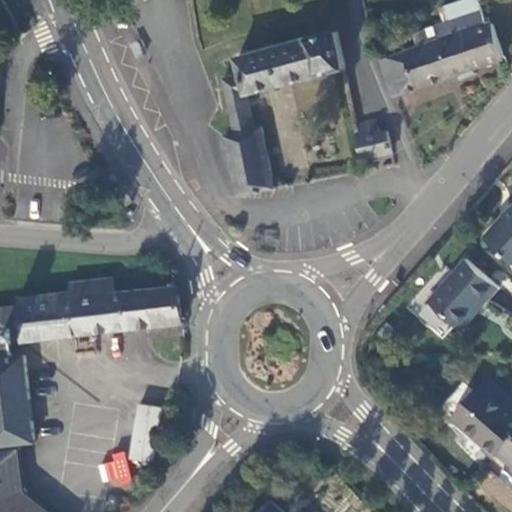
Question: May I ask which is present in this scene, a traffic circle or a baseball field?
traffic circle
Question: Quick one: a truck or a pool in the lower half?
truck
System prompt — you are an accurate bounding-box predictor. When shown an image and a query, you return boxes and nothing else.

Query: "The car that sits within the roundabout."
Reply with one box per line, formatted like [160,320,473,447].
[318,330,332,350]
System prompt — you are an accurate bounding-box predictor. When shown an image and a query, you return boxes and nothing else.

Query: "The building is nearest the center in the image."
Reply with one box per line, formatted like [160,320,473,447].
[223,129,269,190]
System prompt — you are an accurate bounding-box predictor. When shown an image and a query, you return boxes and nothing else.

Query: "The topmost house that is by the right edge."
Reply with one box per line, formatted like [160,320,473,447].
[388,0,502,92]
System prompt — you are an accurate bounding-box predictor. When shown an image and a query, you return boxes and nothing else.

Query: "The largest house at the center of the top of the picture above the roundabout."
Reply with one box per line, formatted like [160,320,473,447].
[232,32,343,99]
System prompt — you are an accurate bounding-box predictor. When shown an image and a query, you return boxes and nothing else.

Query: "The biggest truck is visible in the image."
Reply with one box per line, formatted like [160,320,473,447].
[94,450,130,484]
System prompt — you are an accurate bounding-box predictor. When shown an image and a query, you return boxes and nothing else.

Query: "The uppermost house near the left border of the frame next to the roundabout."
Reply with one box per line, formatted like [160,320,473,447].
[14,277,184,352]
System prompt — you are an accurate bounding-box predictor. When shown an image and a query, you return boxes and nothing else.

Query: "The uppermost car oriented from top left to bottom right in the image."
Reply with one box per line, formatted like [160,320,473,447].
[230,248,249,268]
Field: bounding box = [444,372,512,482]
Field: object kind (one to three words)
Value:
house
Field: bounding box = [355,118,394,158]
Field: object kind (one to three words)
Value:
house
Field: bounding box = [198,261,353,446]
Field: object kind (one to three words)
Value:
roundabout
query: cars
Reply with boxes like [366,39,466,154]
[36,367,58,378]
[318,330,332,350]
[230,248,249,268]
[40,426,61,436]
[30,197,40,217]
[111,336,122,356]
